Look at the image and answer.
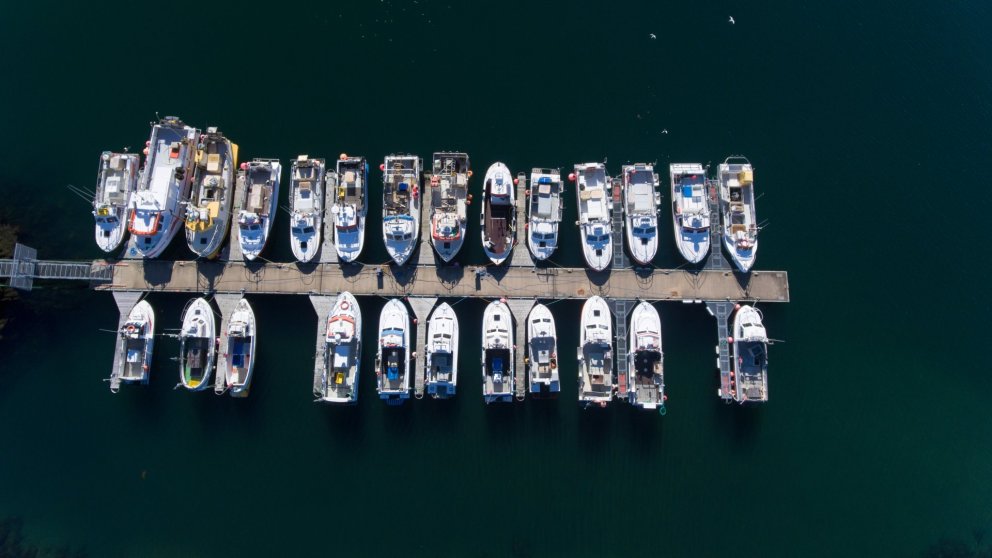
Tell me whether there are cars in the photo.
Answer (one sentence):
No, I find no car anywhere in the image.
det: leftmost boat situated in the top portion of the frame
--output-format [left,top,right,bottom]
[72,149,139,253]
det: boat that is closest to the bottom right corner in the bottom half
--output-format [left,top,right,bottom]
[730,304,785,402]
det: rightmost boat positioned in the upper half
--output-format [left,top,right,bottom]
[718,157,769,273]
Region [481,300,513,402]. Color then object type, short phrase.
white boat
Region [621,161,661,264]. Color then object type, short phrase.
white boat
